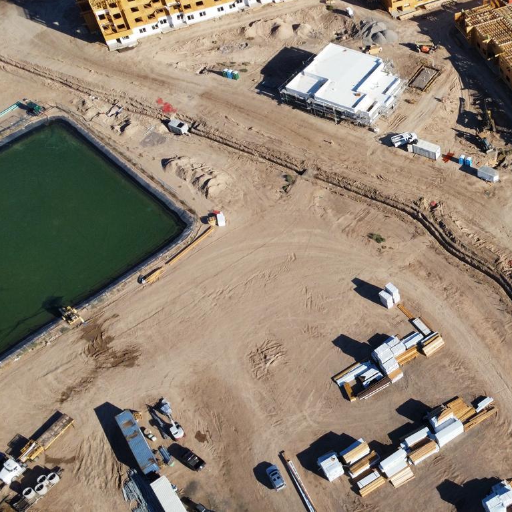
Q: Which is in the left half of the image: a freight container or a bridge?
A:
freight container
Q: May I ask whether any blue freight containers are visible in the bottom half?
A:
Yes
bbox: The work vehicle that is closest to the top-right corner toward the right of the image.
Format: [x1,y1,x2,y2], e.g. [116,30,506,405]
[405,39,438,56]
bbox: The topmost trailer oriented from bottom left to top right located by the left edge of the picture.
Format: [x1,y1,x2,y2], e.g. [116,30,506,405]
[17,413,77,468]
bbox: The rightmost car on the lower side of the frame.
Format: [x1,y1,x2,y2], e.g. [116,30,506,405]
[263,463,290,494]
